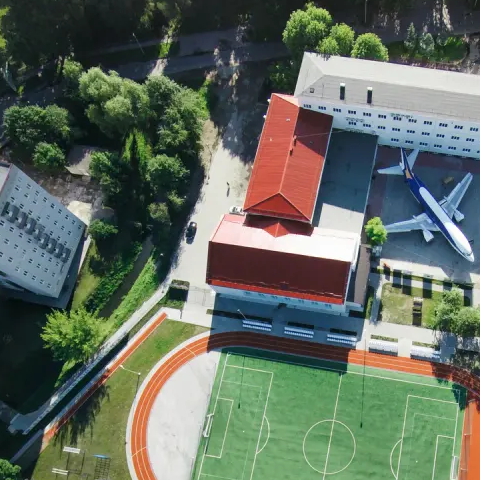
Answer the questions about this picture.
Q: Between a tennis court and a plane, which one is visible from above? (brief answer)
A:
plane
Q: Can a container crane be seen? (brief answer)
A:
No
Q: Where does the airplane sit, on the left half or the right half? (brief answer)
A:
right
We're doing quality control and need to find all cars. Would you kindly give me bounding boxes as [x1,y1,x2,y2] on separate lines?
[227,203,244,215]
[184,221,197,240]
